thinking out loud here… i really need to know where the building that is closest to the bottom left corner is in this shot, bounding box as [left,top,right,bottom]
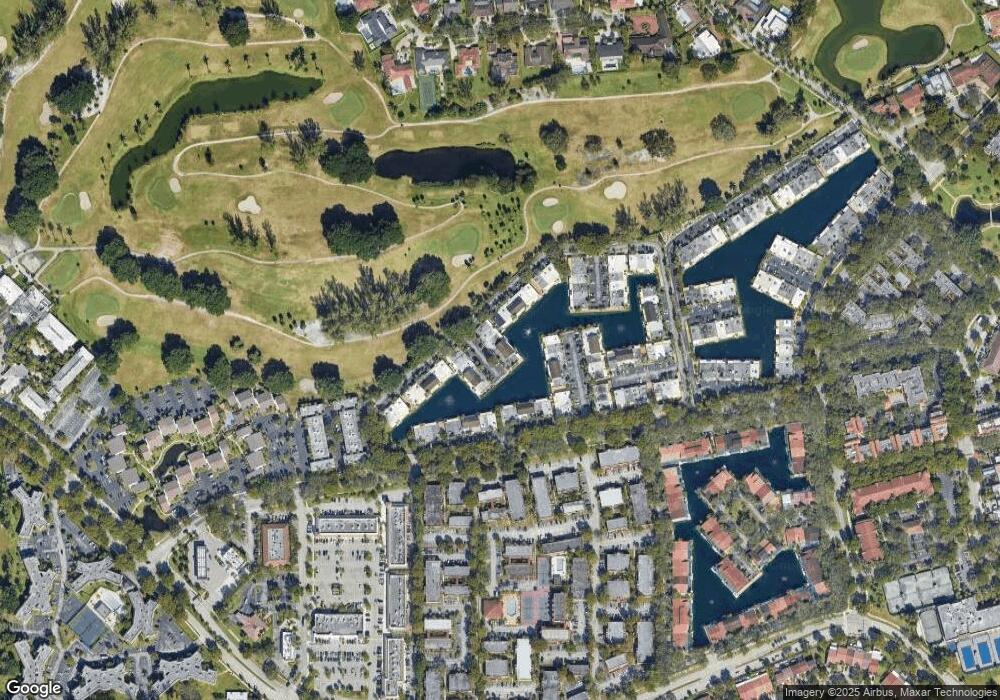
[12,640,56,700]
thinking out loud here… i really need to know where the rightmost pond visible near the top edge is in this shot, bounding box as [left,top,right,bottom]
[817,0,942,99]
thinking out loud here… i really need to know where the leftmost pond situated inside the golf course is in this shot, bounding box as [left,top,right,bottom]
[111,71,320,208]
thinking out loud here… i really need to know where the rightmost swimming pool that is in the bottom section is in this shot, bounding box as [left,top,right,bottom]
[503,593,521,626]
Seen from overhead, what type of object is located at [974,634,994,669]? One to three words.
tennis court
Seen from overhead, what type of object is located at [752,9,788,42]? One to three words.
house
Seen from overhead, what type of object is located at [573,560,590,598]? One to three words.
building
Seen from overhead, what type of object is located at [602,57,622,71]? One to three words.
swimming pool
